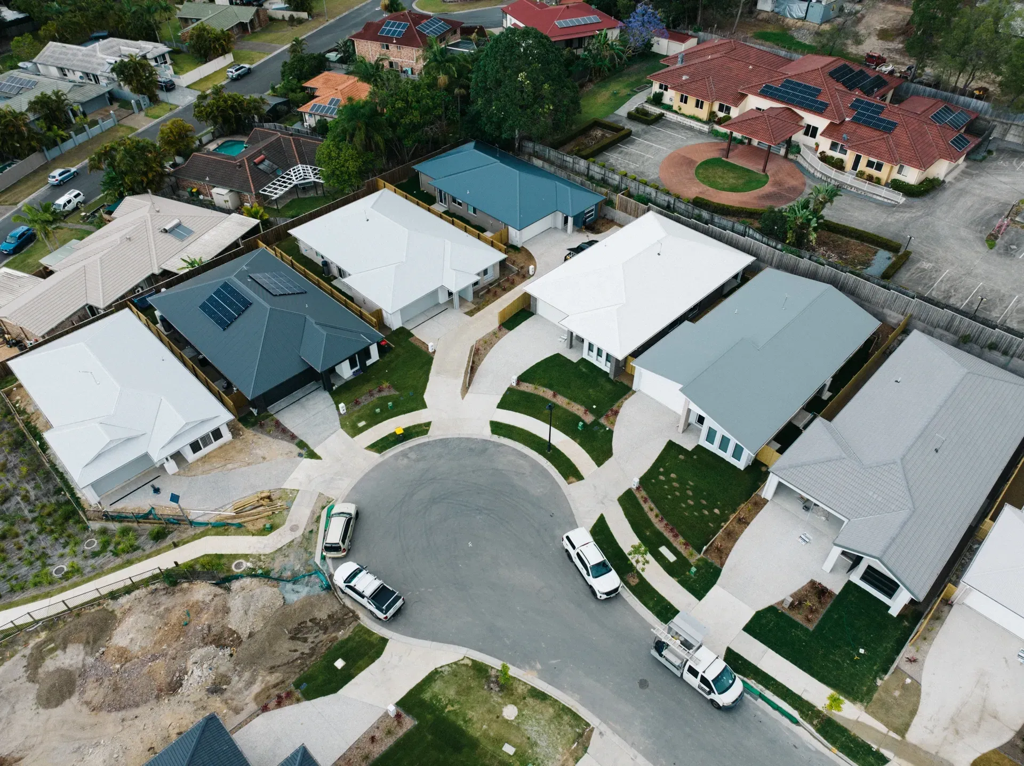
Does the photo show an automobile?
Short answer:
Yes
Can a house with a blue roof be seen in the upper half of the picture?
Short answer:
Yes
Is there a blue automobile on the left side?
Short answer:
Yes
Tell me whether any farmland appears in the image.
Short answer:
No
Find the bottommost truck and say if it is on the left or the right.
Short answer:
right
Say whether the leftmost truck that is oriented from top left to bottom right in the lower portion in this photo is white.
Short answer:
Yes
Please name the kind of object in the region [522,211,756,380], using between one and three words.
house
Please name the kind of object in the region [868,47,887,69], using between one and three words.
vehicle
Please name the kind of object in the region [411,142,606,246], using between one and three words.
house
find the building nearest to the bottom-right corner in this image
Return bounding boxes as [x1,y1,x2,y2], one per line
[953,504,1024,640]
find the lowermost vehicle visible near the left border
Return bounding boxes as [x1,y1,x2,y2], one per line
[0,227,39,254]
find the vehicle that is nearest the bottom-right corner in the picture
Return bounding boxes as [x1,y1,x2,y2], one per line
[650,618,747,717]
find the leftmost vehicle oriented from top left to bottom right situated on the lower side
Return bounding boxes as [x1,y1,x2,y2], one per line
[334,560,404,621]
